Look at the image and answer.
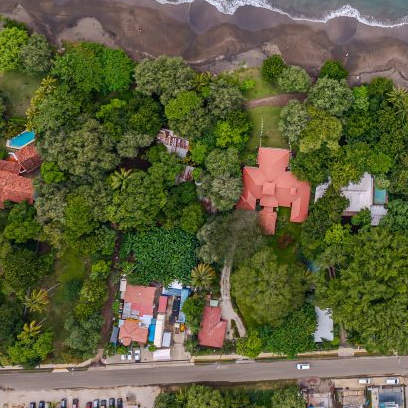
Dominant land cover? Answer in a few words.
trees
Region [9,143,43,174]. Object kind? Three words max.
building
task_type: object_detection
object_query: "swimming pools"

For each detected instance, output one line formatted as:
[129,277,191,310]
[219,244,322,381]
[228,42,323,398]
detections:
[374,188,387,204]
[7,130,35,149]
